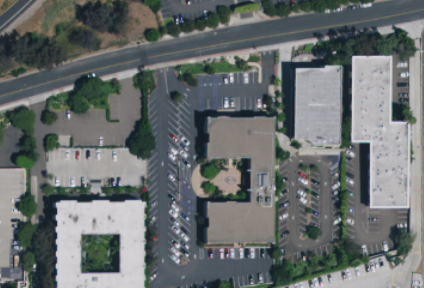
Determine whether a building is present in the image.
Yes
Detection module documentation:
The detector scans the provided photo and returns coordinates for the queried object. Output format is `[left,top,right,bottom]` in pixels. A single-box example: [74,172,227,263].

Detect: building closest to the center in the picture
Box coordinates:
[204,115,275,244]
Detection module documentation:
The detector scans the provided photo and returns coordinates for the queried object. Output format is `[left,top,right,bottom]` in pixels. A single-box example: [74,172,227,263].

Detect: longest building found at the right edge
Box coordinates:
[347,56,409,208]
